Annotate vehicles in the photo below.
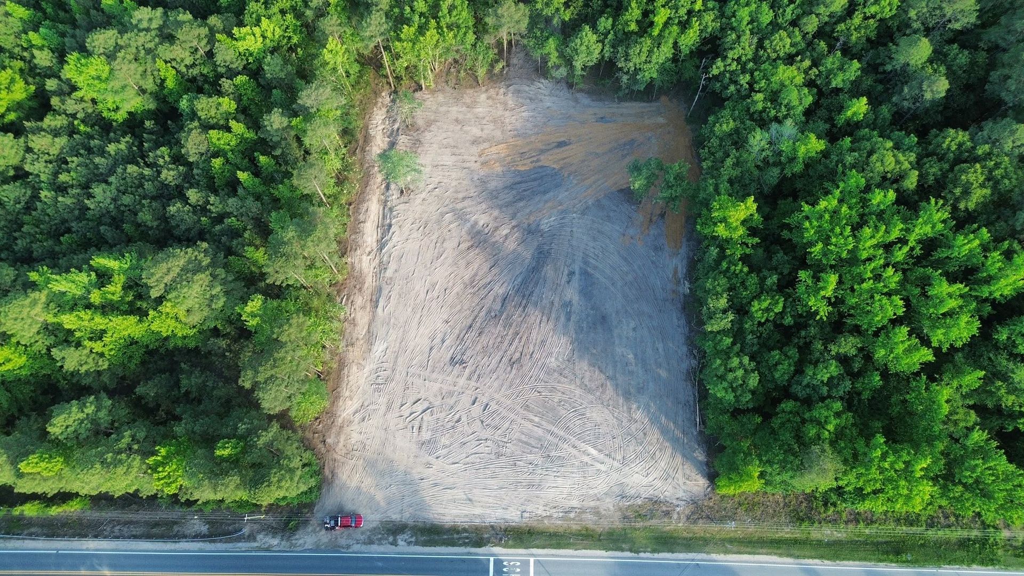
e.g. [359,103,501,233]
[323,513,365,531]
